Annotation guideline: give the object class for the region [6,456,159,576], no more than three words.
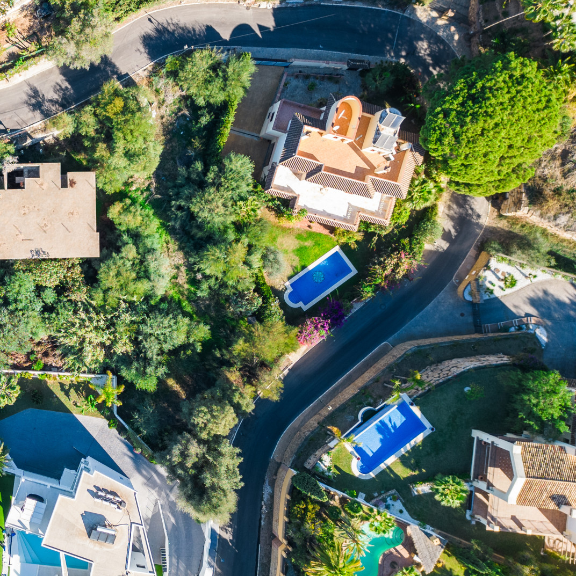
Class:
house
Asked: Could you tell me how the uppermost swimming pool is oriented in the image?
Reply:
at an angle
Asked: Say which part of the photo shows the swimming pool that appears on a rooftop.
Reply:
bottom left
